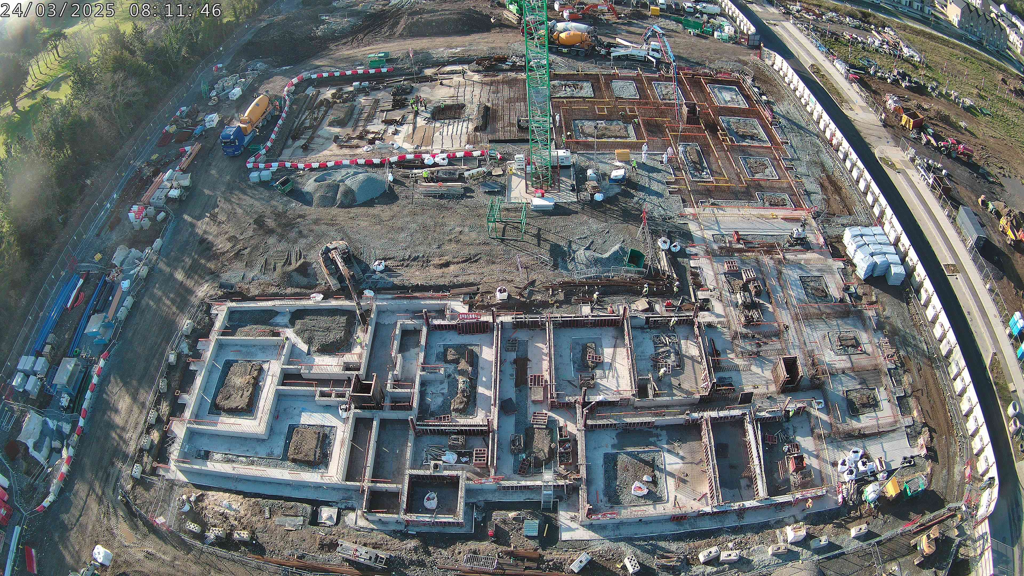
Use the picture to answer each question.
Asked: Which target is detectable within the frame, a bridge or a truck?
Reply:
truck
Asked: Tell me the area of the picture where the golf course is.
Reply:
top left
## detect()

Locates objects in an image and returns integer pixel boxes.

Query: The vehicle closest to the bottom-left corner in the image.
[66,542,127,576]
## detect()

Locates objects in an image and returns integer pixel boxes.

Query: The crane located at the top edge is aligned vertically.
[525,0,554,188]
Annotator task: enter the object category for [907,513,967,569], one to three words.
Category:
work vehicle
